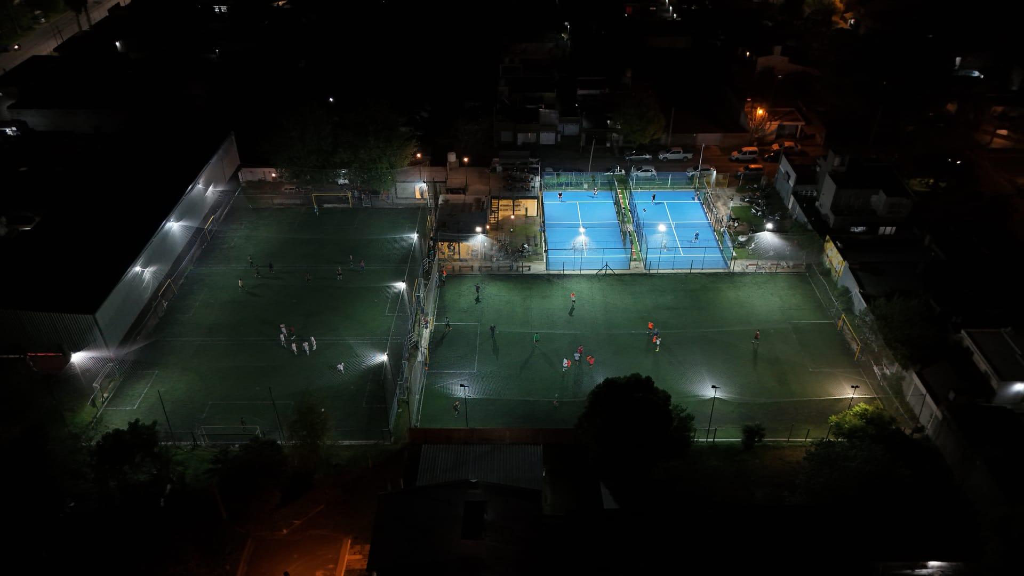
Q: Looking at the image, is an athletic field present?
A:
Yes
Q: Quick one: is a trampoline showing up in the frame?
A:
No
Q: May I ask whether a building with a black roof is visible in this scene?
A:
Yes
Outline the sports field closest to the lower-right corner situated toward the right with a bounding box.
[415,273,882,439]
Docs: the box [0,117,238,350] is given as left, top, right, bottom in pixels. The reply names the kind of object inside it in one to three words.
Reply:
warehouse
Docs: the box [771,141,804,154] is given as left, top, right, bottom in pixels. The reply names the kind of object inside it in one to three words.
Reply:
vehicle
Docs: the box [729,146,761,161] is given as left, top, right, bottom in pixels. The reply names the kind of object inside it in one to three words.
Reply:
vehicle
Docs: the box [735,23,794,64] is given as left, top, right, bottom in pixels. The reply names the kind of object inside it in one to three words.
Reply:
house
